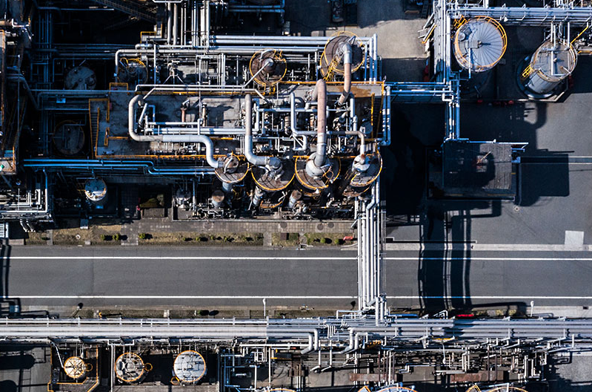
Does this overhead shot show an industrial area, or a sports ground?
industrial area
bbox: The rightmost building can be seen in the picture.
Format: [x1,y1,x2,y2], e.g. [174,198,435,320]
[430,140,526,201]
